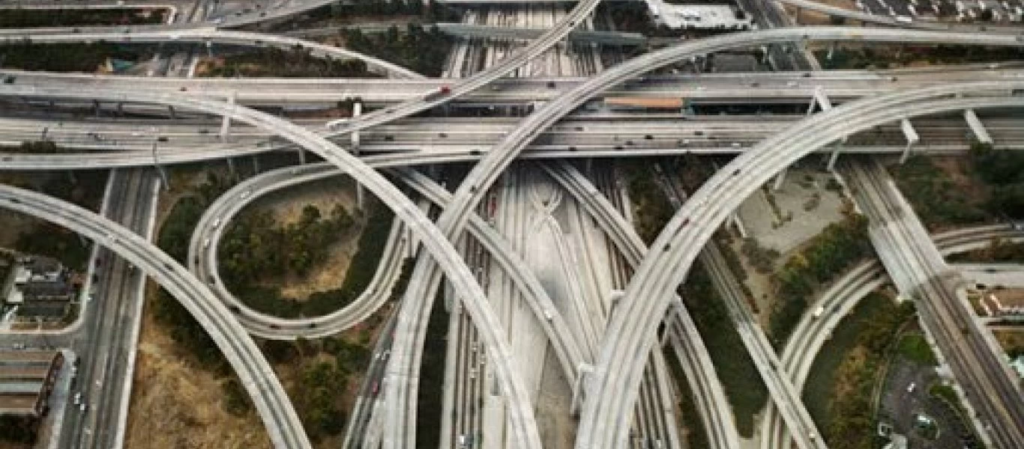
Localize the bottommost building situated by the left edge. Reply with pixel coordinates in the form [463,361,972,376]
[0,349,79,421]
